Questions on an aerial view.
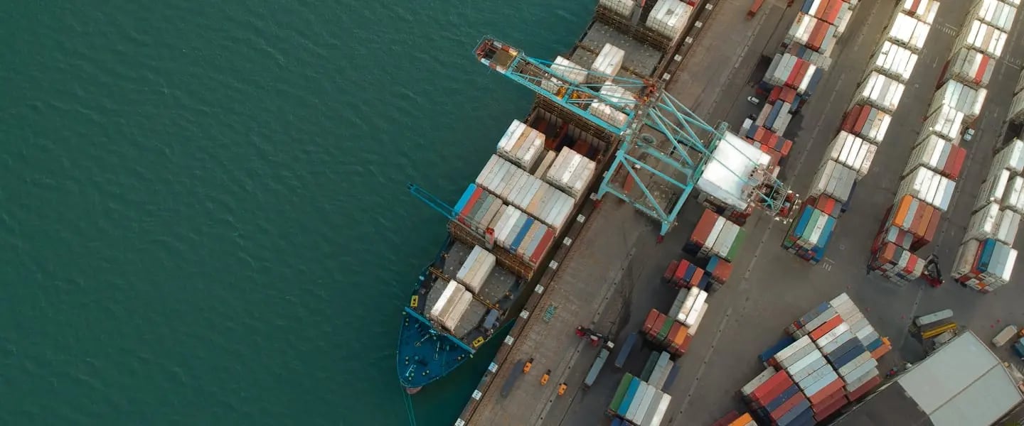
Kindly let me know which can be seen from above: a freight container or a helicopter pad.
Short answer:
freight container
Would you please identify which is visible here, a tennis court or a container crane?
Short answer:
container crane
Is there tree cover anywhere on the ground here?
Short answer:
No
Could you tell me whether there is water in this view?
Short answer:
Yes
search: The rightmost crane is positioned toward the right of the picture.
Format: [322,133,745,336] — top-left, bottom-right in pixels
[469,31,807,246]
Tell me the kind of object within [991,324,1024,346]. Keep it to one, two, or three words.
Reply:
truck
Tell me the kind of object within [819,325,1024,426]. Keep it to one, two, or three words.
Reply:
shed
